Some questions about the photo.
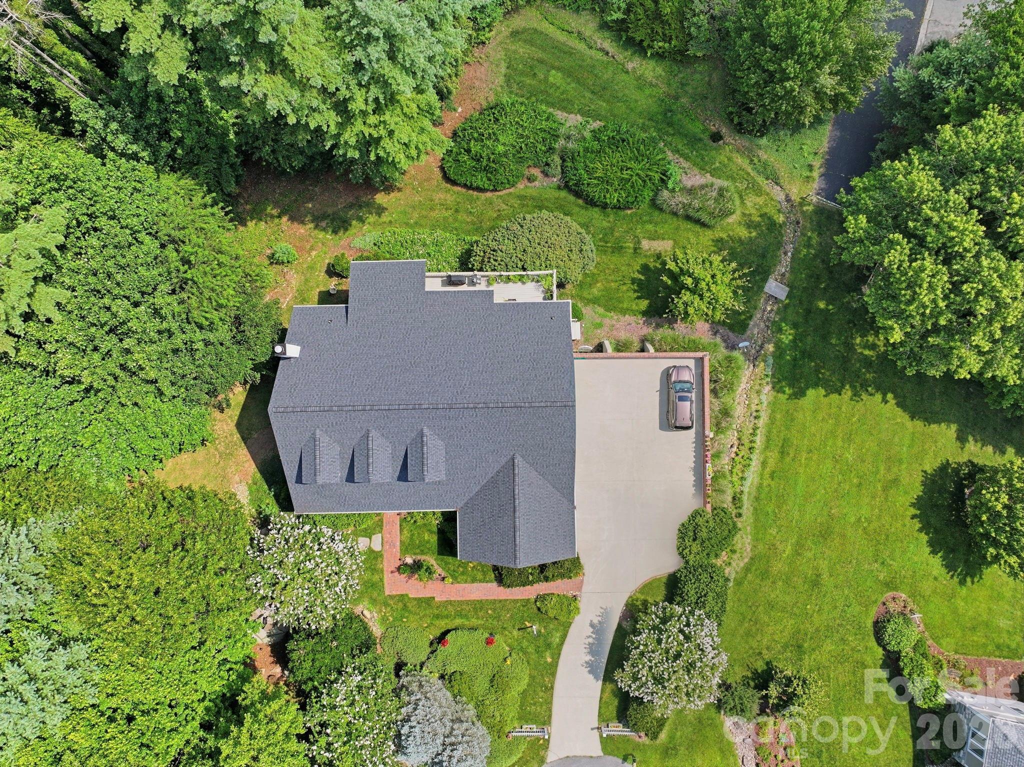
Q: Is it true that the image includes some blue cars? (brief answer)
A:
No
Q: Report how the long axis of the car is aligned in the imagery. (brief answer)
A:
from top to bottom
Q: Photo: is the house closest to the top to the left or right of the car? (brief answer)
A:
to its left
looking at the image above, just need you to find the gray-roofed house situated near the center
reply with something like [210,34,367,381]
[269,258,579,568]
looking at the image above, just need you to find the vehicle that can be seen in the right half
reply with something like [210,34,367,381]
[667,366,698,432]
